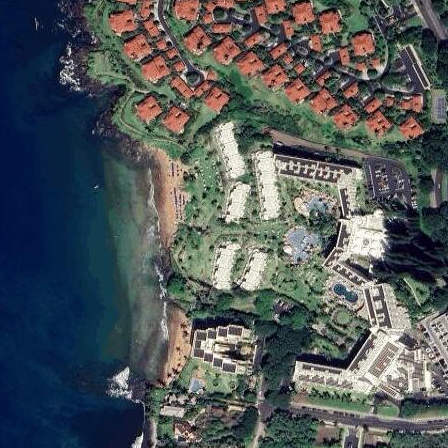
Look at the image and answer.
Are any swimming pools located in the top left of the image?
No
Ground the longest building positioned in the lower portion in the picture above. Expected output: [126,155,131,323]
[275,154,431,401]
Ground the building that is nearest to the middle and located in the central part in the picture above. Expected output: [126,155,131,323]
[221,183,247,221]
